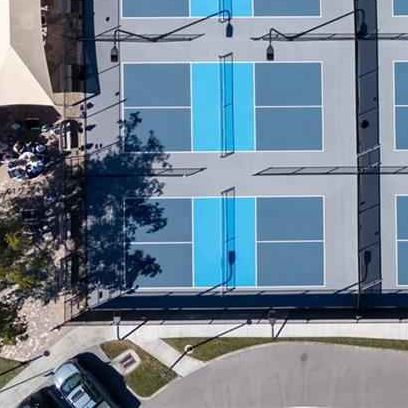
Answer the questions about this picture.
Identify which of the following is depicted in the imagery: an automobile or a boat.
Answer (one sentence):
This aerial view contains an automobile.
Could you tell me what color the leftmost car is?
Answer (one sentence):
The color of the leftmost car is black.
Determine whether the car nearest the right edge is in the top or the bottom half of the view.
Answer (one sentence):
It is in the bottom half that the car nearest the right edge appears.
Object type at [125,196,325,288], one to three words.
sports court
